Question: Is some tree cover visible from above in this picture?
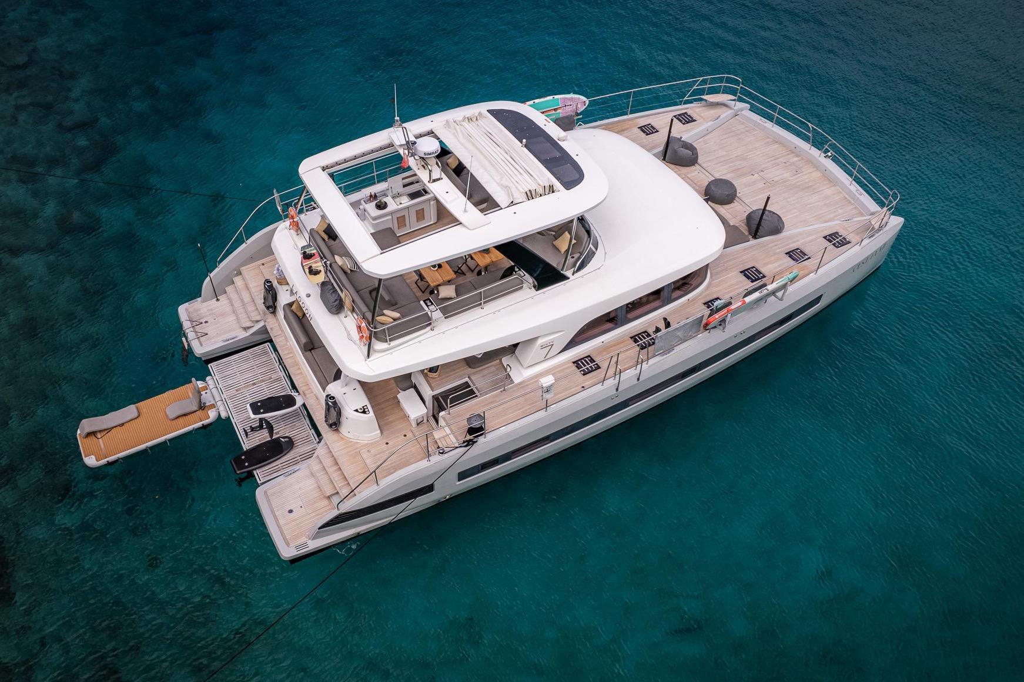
No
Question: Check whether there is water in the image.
Yes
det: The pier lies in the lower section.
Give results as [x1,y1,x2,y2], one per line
[78,383,219,471]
